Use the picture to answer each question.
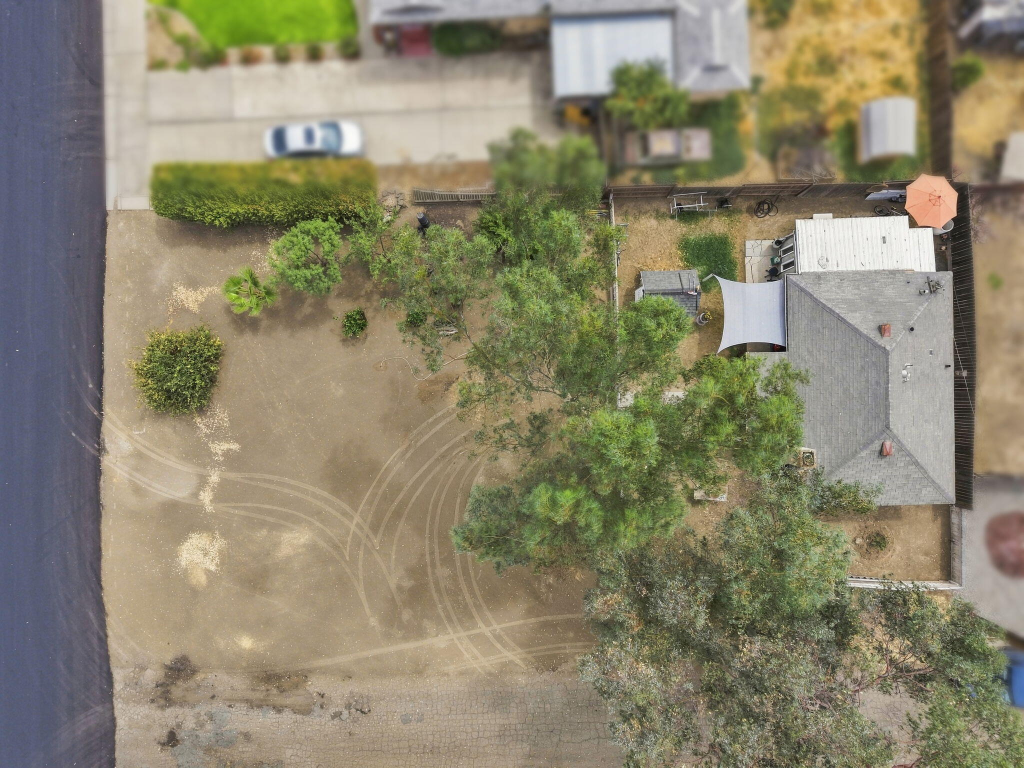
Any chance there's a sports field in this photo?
No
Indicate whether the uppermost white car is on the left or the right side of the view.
left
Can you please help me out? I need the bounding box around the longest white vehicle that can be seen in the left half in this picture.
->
[260,111,360,159]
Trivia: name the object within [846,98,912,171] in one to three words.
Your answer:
shed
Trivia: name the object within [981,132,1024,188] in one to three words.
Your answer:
shed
